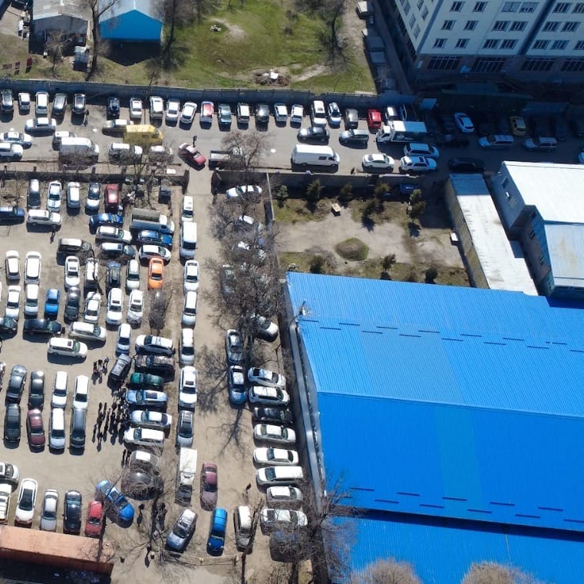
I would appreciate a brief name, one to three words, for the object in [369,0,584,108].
building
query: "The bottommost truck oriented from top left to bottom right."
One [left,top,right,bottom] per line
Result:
[94,477,137,526]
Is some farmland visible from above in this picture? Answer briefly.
No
